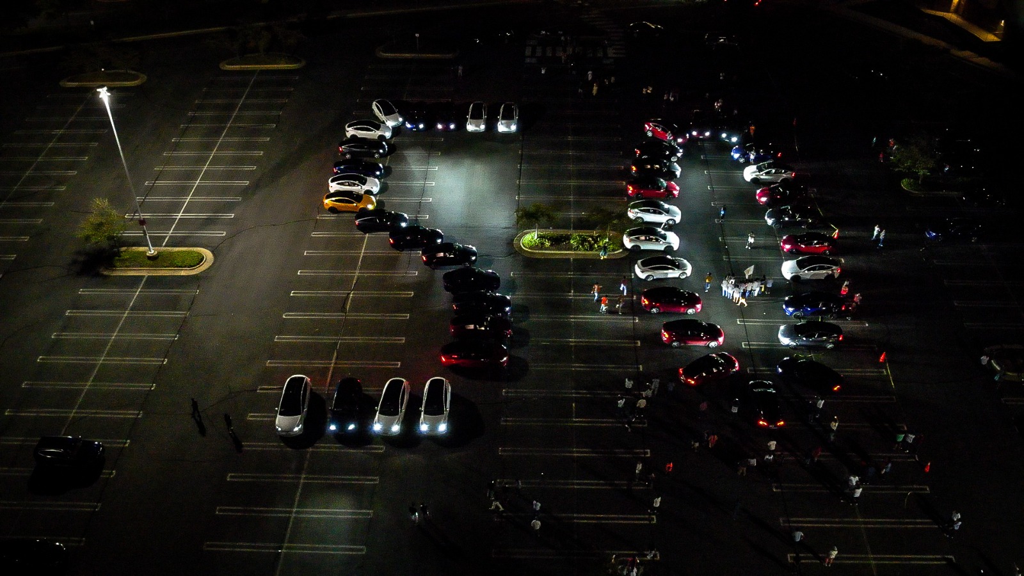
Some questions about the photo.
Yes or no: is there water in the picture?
No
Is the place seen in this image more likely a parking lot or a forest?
parking lot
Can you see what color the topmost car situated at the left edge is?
black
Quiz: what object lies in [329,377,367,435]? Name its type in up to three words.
car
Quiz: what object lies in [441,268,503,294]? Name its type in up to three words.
car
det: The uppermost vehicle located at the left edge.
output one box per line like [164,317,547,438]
[25,431,111,473]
